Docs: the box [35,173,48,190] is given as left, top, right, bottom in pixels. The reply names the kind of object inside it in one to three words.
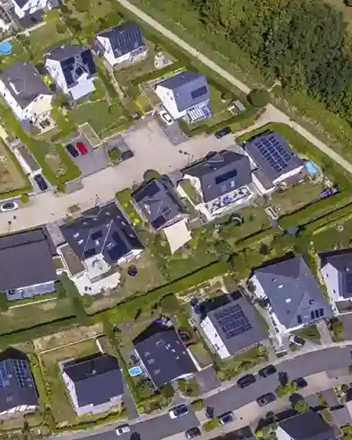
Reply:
vehicle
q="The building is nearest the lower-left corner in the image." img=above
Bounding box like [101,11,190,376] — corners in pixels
[0,357,39,414]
